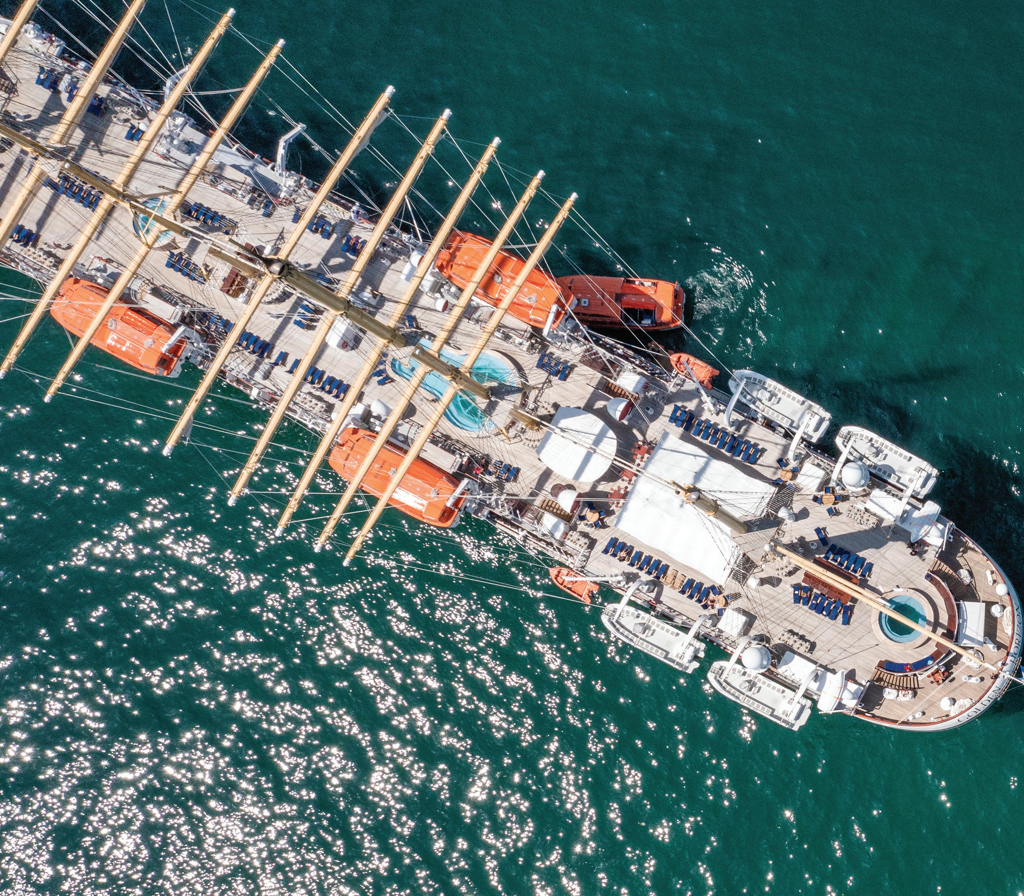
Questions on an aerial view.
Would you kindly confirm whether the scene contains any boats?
Yes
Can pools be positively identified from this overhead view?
Yes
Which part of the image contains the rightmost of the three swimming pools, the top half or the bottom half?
bottom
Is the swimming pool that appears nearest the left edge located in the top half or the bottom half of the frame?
top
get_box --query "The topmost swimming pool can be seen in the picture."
[118,190,184,253]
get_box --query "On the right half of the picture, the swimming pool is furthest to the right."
[871,588,934,650]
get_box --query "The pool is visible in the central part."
[383,332,522,438]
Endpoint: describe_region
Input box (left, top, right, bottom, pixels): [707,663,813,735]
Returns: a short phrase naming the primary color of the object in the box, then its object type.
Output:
white boat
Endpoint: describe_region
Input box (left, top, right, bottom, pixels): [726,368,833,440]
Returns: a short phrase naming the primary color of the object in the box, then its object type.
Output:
white boat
